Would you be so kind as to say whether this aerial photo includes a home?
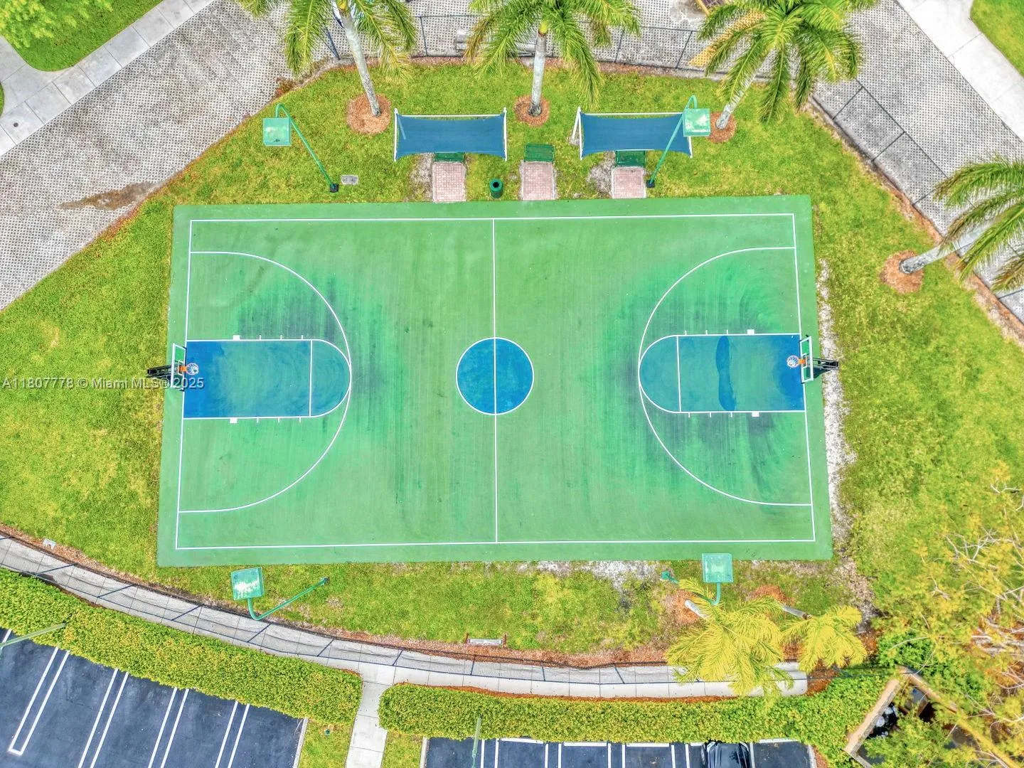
No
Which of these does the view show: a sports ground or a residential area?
sports ground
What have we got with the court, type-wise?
basketball court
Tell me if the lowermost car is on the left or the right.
right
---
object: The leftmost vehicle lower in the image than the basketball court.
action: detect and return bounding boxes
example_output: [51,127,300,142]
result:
[706,740,754,768]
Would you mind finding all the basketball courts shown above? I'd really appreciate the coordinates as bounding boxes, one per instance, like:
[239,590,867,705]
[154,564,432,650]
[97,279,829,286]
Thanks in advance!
[157,196,832,567]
